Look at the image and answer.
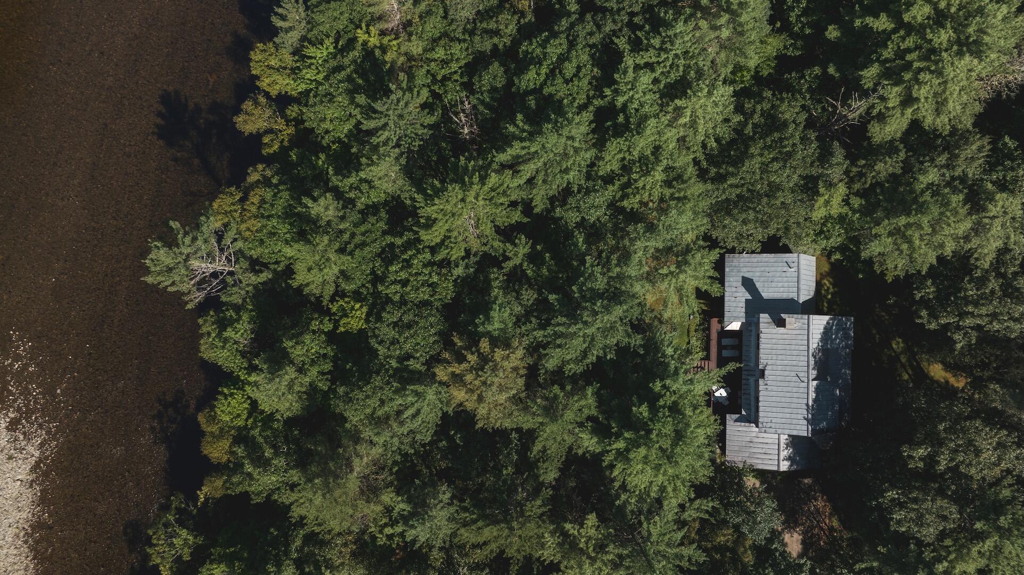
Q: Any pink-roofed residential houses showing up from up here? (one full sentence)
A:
No, there appears to be no pink-roofed residential house in this shot.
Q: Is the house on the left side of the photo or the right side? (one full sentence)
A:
You can find the house on the right side of the picture.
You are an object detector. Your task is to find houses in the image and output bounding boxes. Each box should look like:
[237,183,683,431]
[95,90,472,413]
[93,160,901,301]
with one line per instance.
[716,250,854,470]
